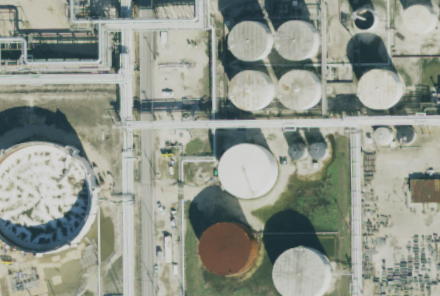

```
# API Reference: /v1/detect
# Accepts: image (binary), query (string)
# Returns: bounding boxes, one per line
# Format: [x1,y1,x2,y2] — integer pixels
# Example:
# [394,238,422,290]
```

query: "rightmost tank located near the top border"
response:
[402,2,438,38]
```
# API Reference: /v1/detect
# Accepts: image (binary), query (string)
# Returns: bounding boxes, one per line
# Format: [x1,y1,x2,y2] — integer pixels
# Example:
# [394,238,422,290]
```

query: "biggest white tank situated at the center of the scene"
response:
[216,144,277,200]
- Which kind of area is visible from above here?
industrial area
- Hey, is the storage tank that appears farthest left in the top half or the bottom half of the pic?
bottom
